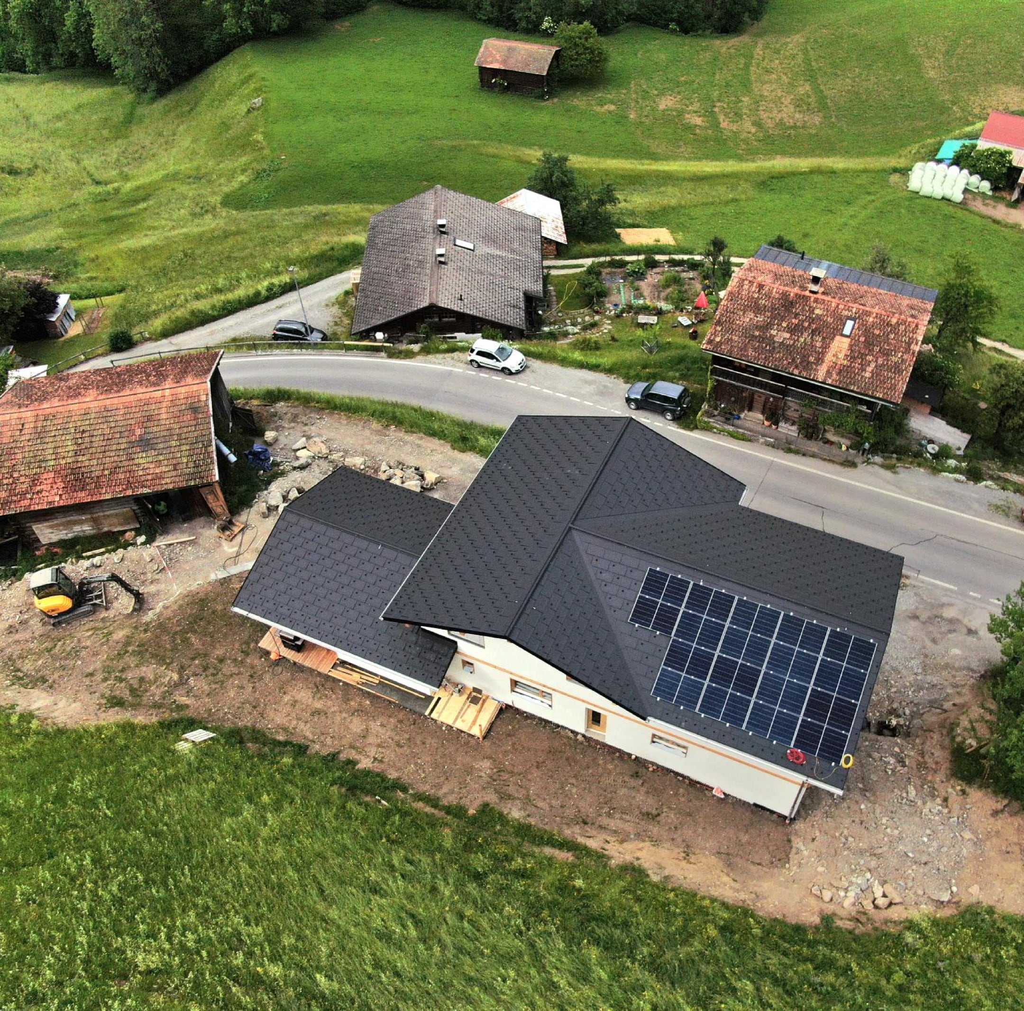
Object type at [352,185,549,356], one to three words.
house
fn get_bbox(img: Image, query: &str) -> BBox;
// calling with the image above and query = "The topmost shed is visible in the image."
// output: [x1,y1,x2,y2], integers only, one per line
[475,39,562,97]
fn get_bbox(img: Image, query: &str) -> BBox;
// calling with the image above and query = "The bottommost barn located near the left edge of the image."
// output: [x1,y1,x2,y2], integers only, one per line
[0,349,225,540]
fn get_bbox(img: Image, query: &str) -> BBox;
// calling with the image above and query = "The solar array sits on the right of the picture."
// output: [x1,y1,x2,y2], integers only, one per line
[628,567,877,763]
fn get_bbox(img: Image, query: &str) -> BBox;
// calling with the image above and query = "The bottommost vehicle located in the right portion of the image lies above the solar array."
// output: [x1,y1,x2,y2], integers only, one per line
[622,378,690,421]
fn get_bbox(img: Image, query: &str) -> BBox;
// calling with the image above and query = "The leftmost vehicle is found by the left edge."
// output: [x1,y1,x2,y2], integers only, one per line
[34,564,150,629]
